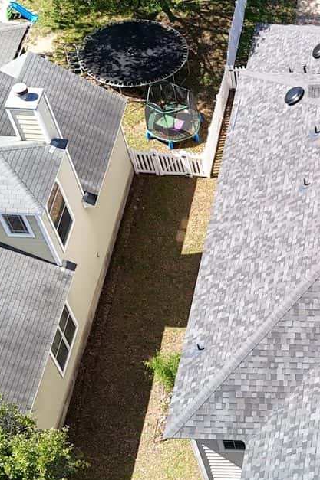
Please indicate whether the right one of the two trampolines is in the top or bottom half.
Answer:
top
